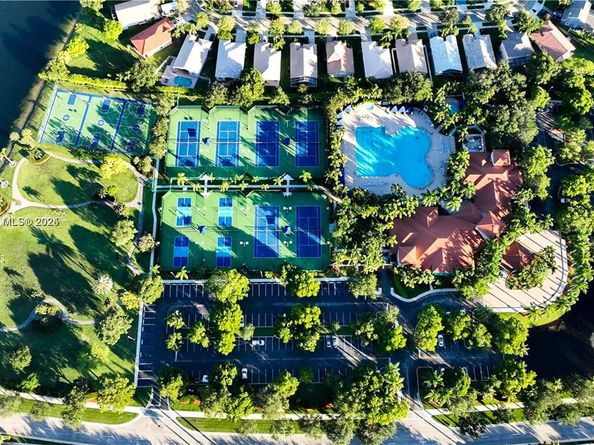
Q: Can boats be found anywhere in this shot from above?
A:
No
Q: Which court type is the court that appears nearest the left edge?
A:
basketball court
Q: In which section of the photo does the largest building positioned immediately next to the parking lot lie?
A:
right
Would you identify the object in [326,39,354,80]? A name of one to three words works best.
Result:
house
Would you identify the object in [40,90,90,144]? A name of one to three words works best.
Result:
basketball court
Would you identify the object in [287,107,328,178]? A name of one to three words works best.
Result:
tennis court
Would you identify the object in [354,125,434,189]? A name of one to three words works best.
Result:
swimming pool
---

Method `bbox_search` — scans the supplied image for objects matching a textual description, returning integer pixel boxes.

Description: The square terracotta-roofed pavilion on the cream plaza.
[501,240,533,270]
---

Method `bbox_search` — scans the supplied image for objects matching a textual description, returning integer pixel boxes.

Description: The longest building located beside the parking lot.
[391,150,525,273]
